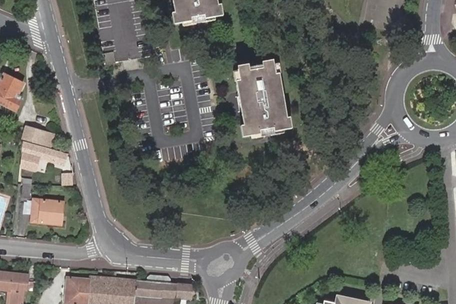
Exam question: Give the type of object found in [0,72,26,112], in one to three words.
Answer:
house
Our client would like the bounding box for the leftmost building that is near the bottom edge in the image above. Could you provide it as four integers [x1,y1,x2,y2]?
[0,270,32,304]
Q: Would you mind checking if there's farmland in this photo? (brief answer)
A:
No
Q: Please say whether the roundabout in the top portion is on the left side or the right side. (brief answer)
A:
right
